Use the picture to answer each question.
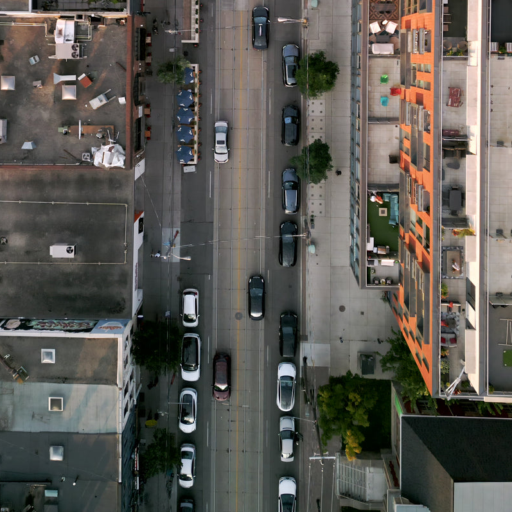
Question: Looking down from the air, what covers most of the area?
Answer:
buildings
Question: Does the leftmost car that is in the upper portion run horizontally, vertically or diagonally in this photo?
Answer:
vertically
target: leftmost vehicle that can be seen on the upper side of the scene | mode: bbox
[211,119,231,162]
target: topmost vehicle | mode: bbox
[250,6,271,49]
